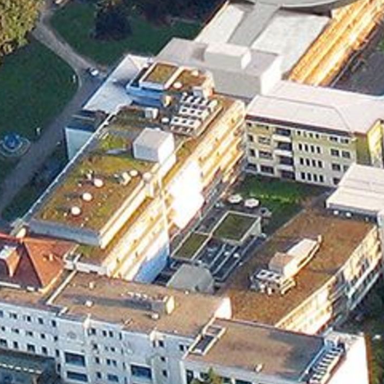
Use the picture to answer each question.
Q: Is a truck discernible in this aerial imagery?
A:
No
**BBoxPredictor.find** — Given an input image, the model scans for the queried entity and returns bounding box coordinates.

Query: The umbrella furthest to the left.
[226,195,244,211]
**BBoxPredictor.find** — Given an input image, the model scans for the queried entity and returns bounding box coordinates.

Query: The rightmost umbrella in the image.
[243,199,261,214]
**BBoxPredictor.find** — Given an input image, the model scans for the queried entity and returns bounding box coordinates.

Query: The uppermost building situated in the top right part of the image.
[183,0,384,84]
